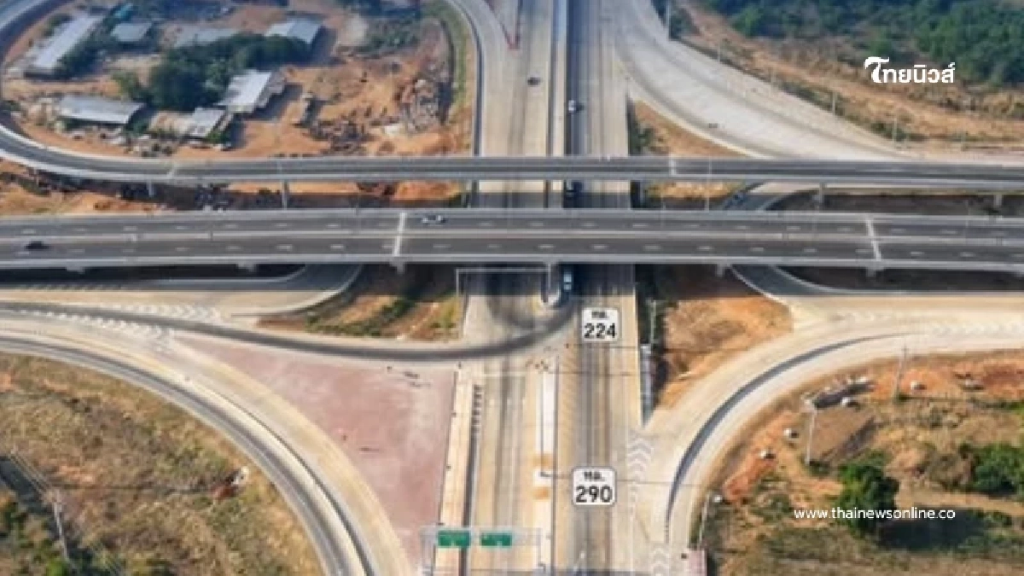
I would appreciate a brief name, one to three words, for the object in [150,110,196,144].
shed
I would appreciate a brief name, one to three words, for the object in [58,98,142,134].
shed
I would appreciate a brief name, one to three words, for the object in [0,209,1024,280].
overpass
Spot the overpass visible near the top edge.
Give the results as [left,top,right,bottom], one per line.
[0,0,1024,203]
